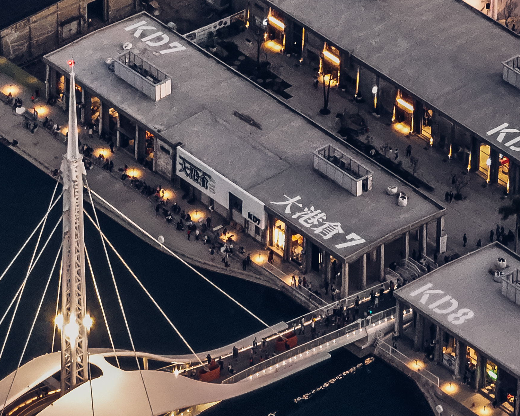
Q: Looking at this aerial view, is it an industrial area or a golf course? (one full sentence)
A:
What you see here is an industrial area.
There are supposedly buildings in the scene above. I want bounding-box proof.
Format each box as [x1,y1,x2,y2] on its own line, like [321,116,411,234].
[395,239,520,410]
[0,0,148,64]
[229,0,520,196]
[44,9,447,291]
